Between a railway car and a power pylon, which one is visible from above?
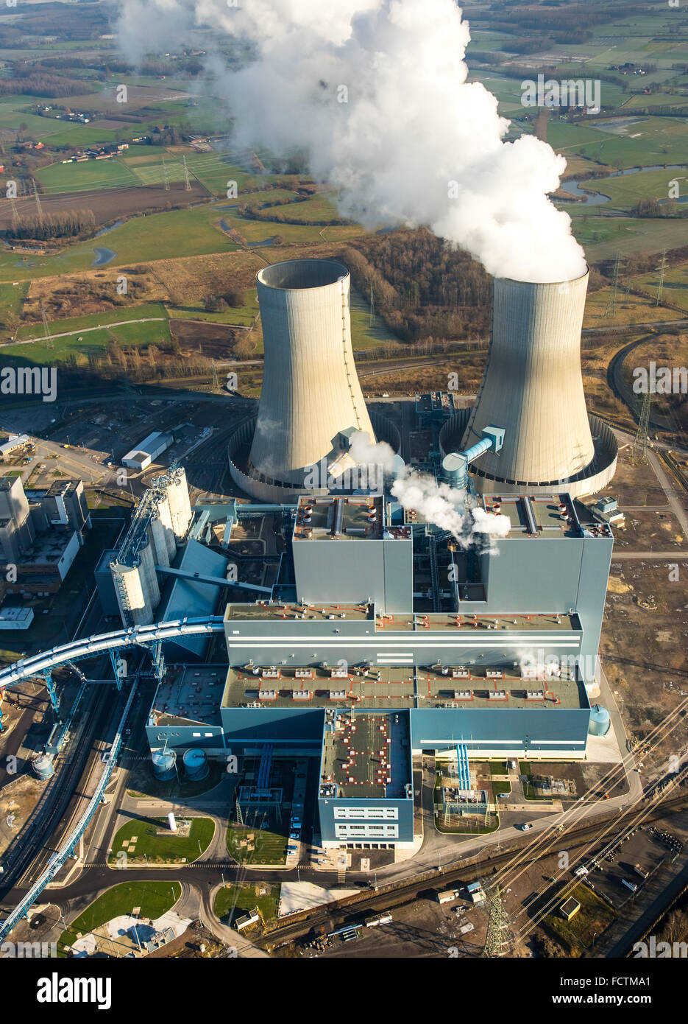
power pylon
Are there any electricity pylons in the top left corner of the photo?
Yes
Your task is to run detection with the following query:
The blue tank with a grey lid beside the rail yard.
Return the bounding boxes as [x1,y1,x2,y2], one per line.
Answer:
[29,744,58,775]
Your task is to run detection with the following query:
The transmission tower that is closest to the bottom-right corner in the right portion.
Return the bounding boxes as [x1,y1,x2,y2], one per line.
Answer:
[481,885,528,983]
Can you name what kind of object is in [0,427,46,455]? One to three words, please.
shed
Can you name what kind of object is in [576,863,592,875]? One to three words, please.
vehicle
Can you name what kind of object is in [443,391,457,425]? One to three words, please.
building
